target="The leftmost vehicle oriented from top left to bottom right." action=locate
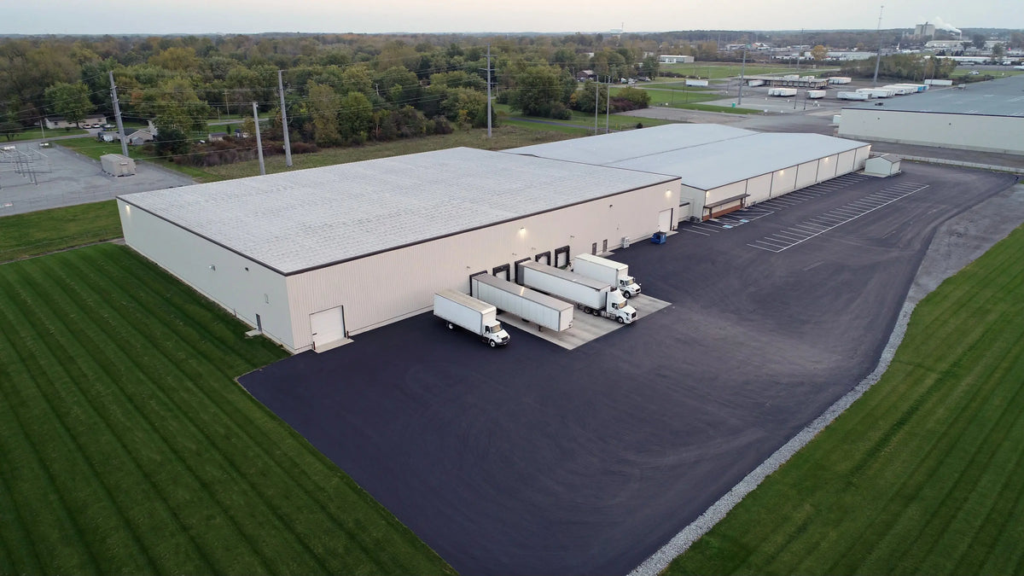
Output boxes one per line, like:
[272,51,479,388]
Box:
[435,289,514,350]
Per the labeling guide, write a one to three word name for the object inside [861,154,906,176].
shed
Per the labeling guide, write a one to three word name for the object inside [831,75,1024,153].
building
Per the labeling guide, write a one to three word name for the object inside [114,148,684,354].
warehouse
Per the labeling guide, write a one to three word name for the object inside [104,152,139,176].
building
